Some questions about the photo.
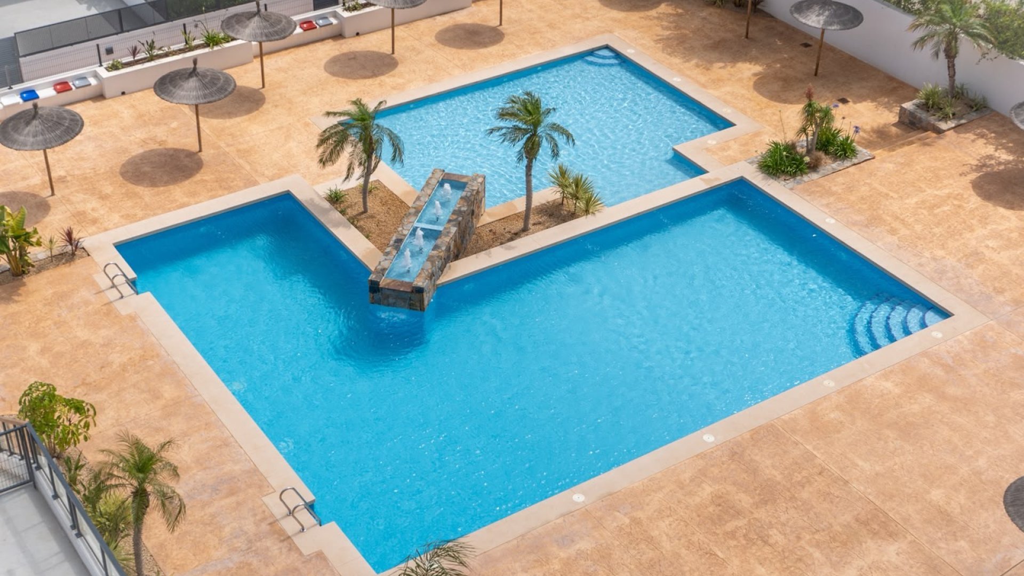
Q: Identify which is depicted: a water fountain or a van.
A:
water fountain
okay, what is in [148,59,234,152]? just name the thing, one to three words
umbrella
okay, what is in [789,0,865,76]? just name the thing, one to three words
umbrella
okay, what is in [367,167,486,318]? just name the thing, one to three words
fountain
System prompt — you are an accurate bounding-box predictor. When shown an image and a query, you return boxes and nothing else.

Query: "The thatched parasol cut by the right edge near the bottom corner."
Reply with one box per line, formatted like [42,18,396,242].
[998,467,1024,531]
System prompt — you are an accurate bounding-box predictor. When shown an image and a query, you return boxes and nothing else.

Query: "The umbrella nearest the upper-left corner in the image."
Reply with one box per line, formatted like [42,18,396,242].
[0,97,85,195]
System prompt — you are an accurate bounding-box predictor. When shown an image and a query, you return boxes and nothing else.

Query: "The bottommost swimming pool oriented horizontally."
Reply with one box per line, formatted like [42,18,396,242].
[81,160,991,576]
